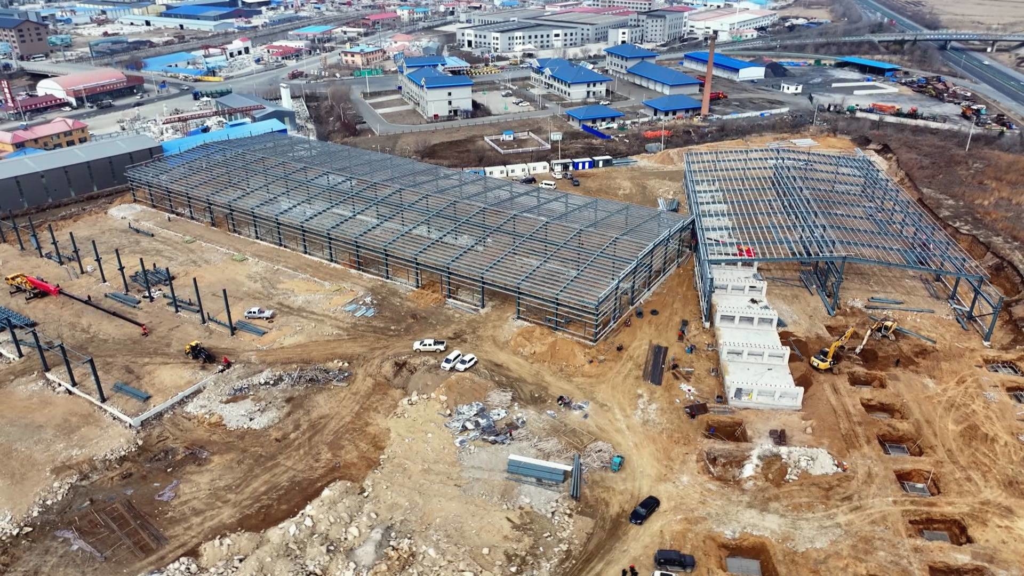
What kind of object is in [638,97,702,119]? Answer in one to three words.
building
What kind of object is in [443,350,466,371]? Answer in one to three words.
car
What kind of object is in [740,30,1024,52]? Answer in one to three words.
bridge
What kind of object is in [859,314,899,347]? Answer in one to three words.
work vehicle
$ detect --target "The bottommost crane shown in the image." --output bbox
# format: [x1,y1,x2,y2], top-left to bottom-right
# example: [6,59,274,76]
[0,276,150,331]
